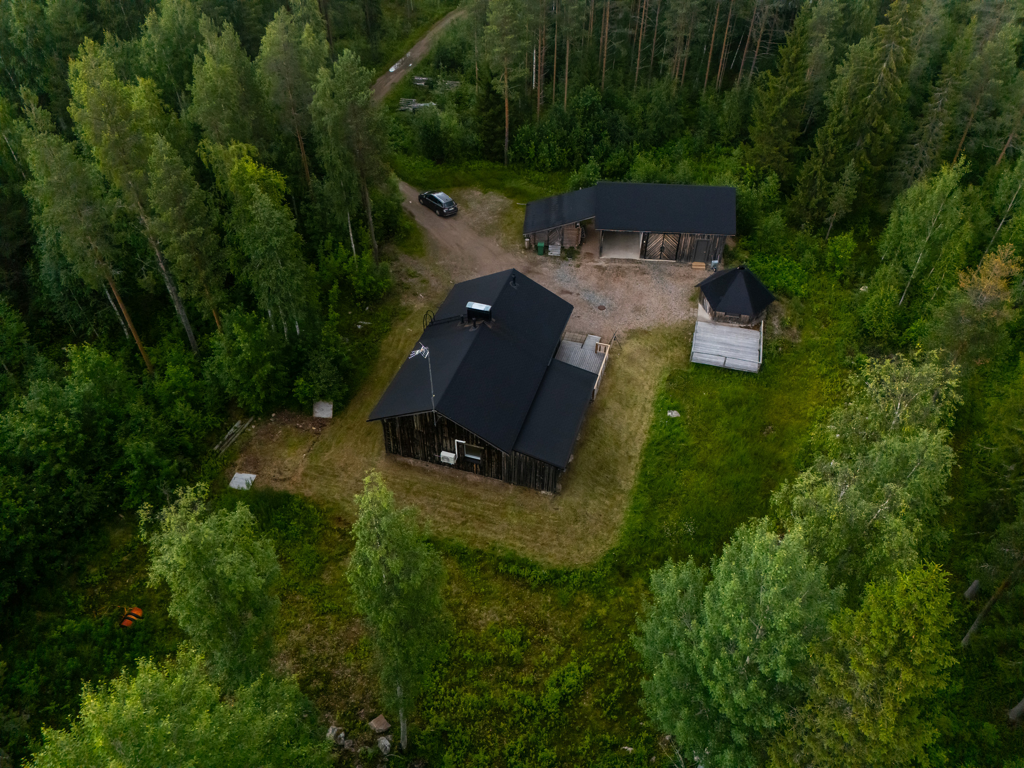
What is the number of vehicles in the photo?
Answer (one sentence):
The count comes to 1 vehicle.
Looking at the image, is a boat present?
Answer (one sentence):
No, no boat can be seen from above.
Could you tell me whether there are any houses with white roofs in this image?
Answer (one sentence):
No, I find no house with a white roof anywhere in the image.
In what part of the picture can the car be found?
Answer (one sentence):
The car is in the top part of the image.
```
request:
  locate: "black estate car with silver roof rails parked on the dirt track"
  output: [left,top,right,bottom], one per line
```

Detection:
[419,192,454,215]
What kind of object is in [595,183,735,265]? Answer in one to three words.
building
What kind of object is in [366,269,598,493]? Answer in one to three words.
house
